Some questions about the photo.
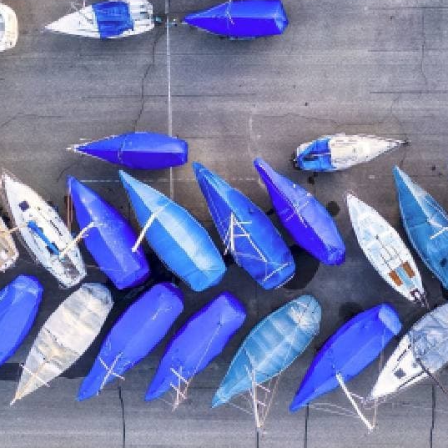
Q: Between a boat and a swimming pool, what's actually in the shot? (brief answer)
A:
boat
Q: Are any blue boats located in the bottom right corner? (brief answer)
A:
Yes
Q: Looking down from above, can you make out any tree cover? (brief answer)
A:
No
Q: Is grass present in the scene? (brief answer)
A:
No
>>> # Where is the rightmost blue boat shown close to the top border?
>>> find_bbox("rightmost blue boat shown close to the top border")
[183,0,289,39]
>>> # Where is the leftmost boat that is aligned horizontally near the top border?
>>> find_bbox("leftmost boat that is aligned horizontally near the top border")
[45,1,163,43]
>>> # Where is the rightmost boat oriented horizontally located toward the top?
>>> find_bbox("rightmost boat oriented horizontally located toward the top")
[289,131,407,171]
